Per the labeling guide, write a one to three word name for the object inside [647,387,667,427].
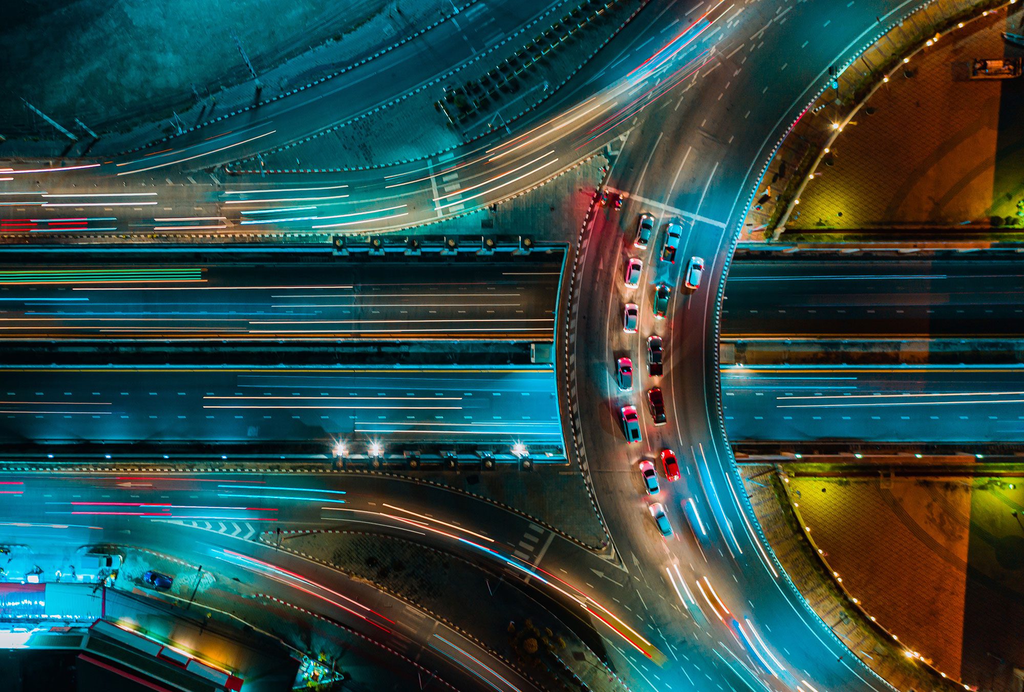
car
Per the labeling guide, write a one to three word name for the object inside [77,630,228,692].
building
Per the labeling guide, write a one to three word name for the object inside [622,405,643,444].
vehicle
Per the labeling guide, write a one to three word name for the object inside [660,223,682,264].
truck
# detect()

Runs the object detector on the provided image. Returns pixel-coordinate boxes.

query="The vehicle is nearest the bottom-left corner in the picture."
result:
[79,553,124,571]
